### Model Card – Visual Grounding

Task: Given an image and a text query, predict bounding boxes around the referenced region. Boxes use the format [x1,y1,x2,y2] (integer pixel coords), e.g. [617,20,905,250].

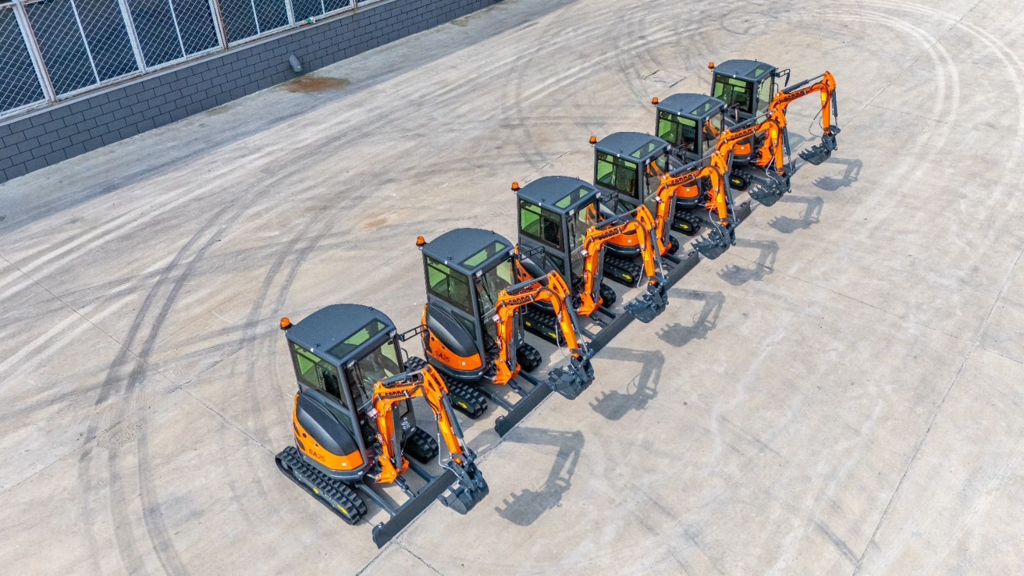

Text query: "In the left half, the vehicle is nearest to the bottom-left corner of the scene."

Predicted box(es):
[273,305,488,547]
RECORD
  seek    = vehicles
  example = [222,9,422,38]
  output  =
[400,228,595,437]
[273,305,488,547]
[489,175,669,360]
[644,92,795,237]
[570,130,739,293]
